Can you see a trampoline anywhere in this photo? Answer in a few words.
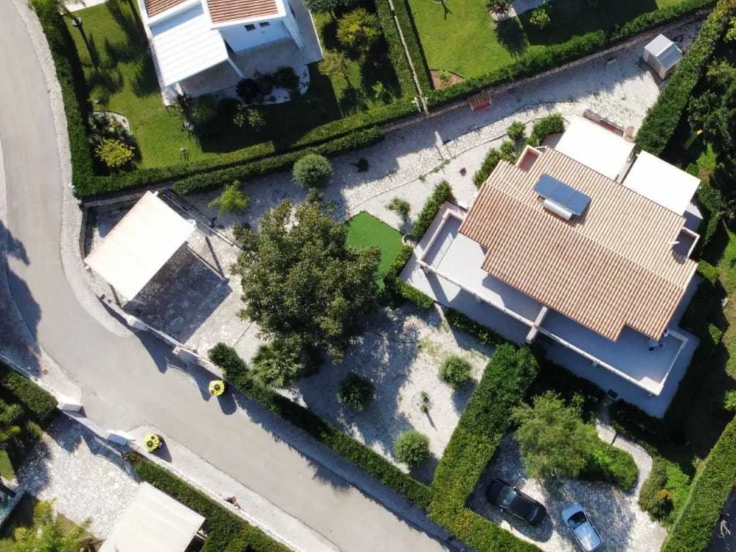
No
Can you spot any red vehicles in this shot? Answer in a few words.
No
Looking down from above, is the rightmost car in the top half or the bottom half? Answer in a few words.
bottom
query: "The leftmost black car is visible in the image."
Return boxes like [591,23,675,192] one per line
[484,475,551,529]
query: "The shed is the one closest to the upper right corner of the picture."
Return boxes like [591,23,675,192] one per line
[642,35,683,78]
